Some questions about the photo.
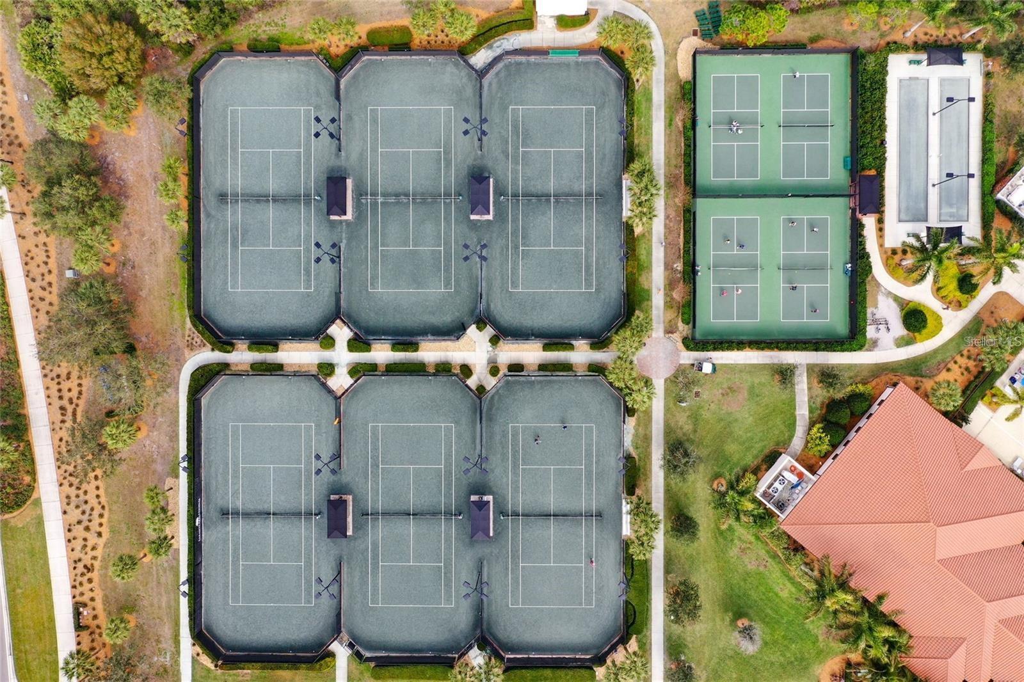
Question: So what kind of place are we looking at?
sports ground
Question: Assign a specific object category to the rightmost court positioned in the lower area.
tennis court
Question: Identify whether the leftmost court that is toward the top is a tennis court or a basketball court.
tennis court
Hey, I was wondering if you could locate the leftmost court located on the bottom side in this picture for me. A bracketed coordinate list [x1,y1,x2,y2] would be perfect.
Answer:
[203,376,341,653]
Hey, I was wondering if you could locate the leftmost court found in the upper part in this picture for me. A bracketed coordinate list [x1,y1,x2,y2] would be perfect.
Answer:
[202,59,339,338]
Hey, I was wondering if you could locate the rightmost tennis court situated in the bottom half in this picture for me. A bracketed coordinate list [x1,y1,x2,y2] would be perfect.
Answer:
[481,377,623,655]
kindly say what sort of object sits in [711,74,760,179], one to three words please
sports court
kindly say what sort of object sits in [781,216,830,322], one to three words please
sports court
